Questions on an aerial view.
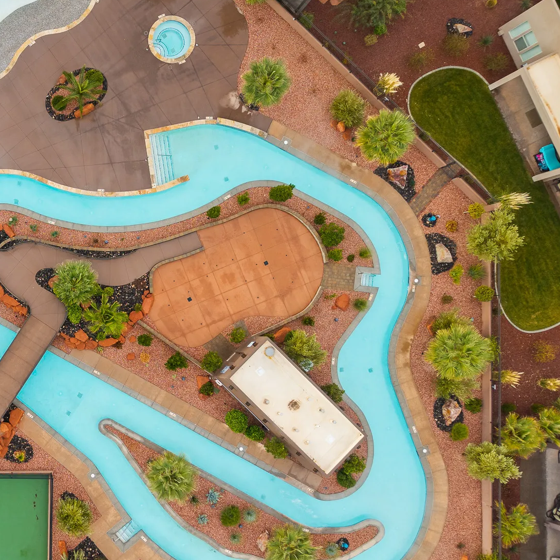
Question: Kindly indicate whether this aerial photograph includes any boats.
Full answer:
No, no boat is visible in the scene.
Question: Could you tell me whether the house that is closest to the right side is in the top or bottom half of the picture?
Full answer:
The house that is closest to the right side is in the top half of the image.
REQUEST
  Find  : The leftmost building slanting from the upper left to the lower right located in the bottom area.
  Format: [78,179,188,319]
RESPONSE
[217,338,365,475]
